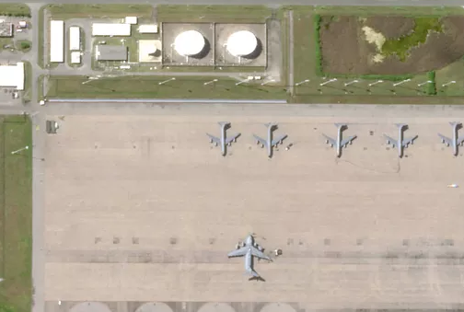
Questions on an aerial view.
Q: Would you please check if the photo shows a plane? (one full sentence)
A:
Yes, the photo shows a plane.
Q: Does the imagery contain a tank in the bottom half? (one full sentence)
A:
No, there is no tank in the bottom half.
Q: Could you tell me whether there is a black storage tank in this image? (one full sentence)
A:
No, the frame has no black storage tank in it.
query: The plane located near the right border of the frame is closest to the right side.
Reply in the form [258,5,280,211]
[438,121,464,157]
